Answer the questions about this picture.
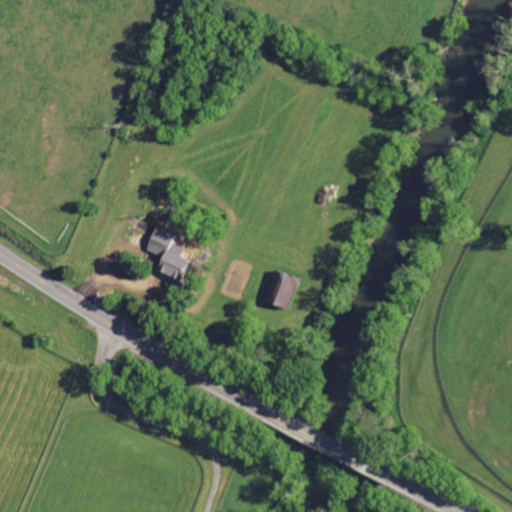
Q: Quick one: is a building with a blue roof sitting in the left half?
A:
No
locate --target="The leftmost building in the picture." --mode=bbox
[145,228,188,275]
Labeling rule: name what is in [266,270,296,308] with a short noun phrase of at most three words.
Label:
barn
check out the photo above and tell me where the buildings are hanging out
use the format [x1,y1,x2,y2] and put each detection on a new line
[145,228,188,275]
[266,270,296,308]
